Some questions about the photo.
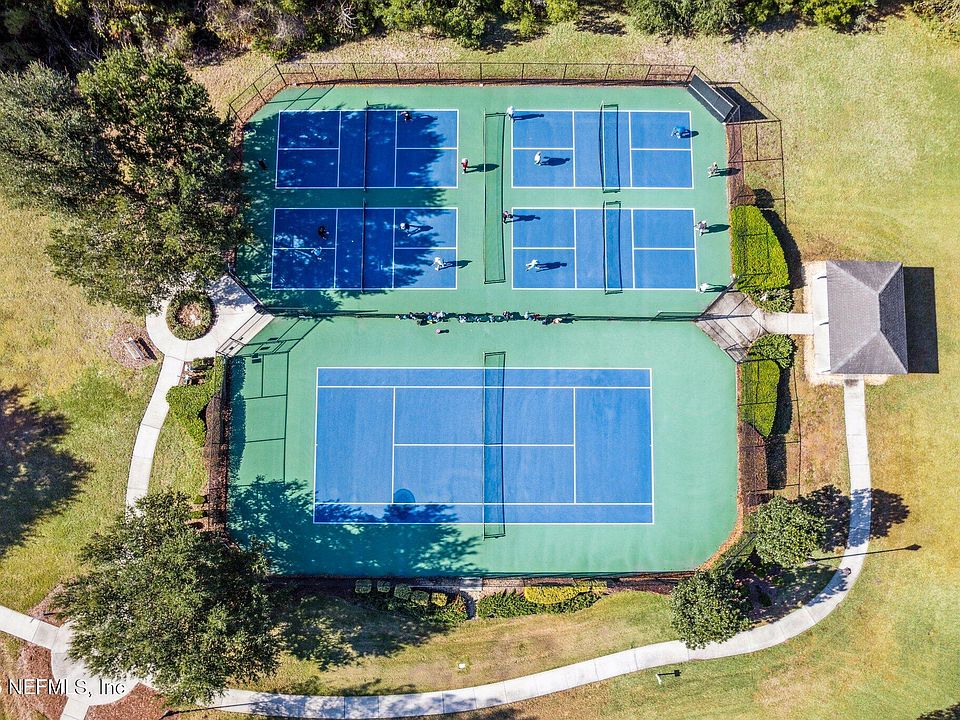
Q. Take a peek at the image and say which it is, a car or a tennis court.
tennis court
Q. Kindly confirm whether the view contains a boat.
No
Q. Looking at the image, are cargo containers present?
No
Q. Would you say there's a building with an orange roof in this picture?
No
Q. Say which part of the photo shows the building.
right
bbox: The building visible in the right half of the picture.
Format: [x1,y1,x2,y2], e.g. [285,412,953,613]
[813,260,908,375]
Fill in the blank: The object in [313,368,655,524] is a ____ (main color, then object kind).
blue tennis court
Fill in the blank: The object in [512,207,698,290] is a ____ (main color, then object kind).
blue sports court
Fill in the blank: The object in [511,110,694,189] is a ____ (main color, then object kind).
blue sports court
